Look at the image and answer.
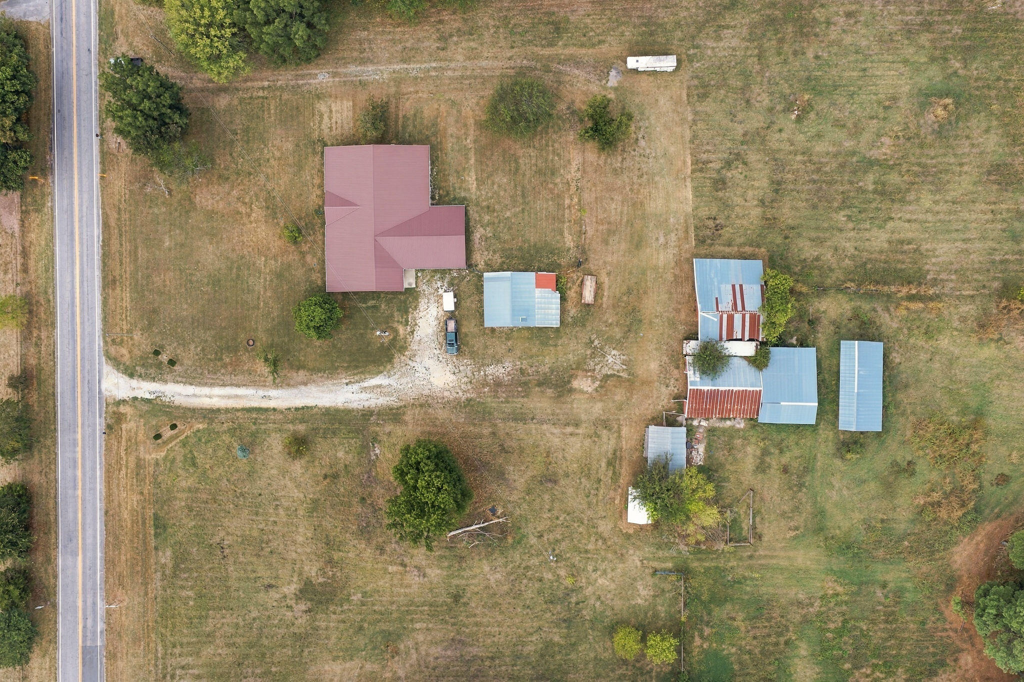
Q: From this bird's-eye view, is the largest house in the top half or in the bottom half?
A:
top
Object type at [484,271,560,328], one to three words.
building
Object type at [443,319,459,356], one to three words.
vehicle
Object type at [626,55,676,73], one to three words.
vehicle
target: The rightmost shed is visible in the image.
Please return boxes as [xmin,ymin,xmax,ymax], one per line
[838,340,884,432]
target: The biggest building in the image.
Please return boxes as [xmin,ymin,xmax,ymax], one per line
[324,144,467,293]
